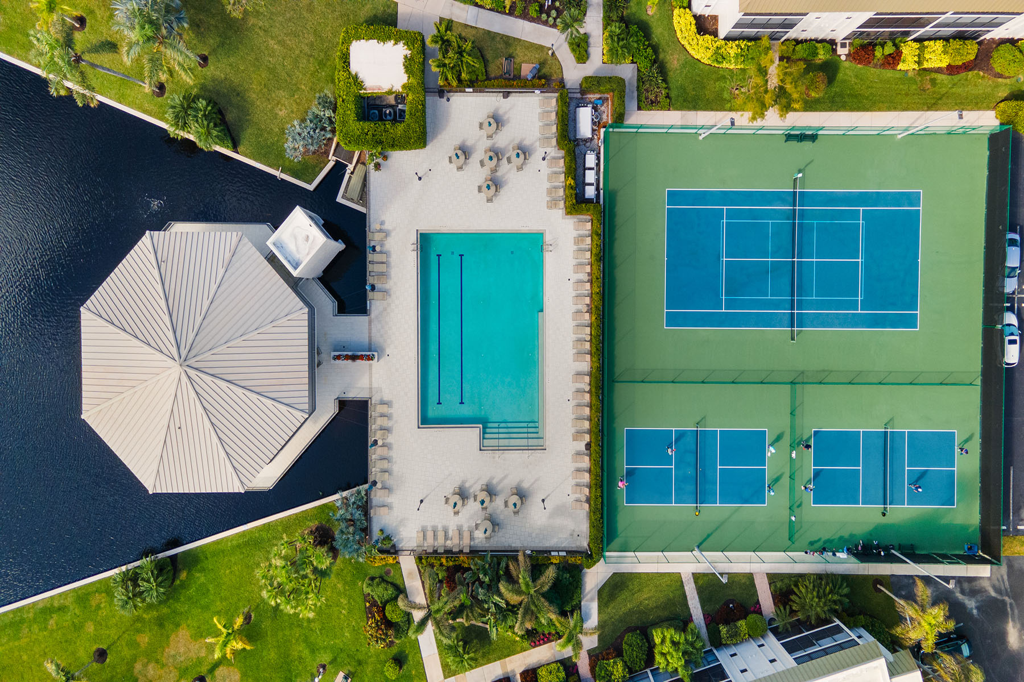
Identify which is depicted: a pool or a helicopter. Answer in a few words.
pool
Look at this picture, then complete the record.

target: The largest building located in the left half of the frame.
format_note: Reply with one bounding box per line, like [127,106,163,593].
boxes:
[80,222,370,495]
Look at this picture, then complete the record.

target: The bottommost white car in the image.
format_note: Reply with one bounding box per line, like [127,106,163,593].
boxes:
[1006,311,1022,368]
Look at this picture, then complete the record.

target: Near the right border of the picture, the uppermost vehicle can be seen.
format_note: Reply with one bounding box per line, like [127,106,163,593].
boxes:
[1007,232,1020,293]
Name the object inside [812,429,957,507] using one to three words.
sports court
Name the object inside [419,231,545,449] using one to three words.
swimming pool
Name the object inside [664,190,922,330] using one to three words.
tennis court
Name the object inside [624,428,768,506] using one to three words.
sports court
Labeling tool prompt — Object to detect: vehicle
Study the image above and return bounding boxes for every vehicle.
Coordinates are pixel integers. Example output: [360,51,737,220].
[1007,232,1020,293]
[916,633,972,670]
[1006,311,1022,368]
